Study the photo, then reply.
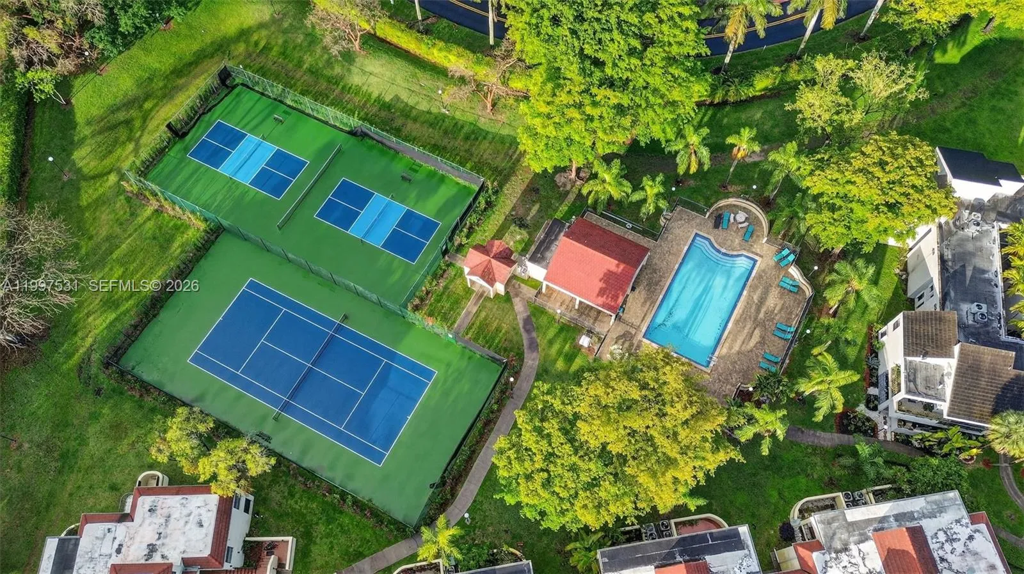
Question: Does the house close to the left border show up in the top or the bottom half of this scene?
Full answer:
The house close to the left border is in the bottom half of the image.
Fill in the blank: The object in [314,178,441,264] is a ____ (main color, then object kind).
blue sports court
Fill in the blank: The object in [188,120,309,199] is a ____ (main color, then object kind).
blue sports court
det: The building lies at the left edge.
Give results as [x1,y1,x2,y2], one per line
[36,486,248,574]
